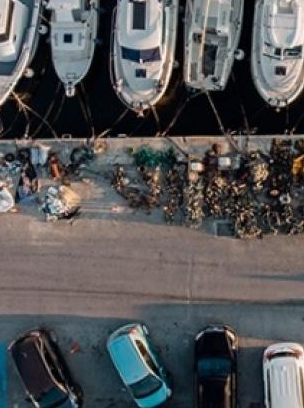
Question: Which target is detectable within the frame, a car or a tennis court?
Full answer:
Visible in the photo is a car.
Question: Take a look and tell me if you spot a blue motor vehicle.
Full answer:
Yes, there's a blue motor vehicle down there.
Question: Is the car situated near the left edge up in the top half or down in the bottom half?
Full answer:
The car situated near the left edge is in the bottom half of the image.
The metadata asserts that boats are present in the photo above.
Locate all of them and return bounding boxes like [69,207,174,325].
[49,0,103,96]
[110,0,179,115]
[252,0,304,112]
[0,0,50,103]
[177,0,245,93]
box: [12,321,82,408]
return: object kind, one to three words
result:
car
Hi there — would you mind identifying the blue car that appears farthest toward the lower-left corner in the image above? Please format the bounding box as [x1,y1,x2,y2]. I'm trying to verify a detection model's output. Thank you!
[111,320,169,408]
